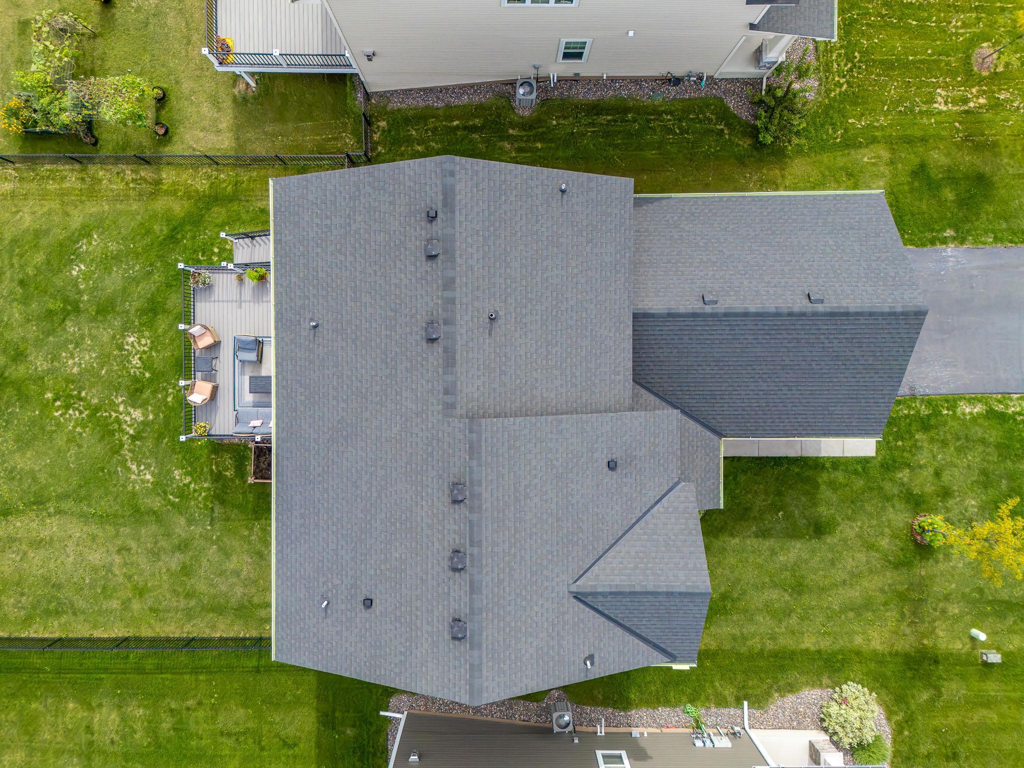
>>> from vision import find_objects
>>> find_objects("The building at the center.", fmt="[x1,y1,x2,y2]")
[268,154,927,703]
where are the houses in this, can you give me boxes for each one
[378,702,883,768]
[268,154,927,703]
[286,0,837,94]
